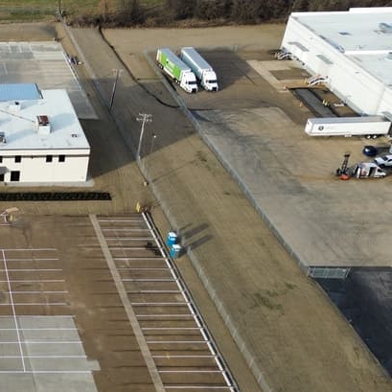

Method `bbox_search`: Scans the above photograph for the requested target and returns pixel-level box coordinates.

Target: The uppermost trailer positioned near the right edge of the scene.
[299,115,388,140]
